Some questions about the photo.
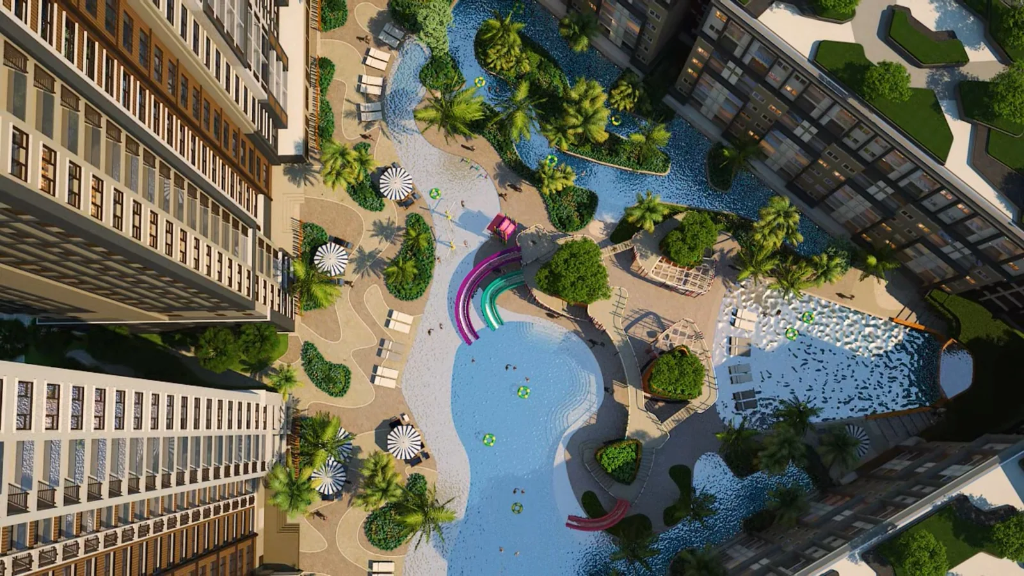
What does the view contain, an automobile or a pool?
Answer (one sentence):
I can see a pool in this picture.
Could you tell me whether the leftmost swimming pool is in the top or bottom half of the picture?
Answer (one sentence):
The bottom half of the photo is where the leftmost swimming pool is.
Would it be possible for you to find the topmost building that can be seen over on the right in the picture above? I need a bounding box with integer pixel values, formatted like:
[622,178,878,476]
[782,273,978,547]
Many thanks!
[566,0,701,65]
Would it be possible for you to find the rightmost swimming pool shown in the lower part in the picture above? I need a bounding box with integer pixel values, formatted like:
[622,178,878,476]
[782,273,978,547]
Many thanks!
[942,341,975,399]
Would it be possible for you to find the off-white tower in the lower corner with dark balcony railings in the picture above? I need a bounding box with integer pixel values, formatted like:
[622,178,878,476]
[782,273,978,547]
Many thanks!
[0,361,292,576]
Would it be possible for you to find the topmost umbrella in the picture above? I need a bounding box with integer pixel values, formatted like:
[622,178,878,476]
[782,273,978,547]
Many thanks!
[379,168,414,202]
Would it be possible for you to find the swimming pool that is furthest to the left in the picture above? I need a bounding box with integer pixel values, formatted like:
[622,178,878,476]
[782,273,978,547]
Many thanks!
[447,321,621,576]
